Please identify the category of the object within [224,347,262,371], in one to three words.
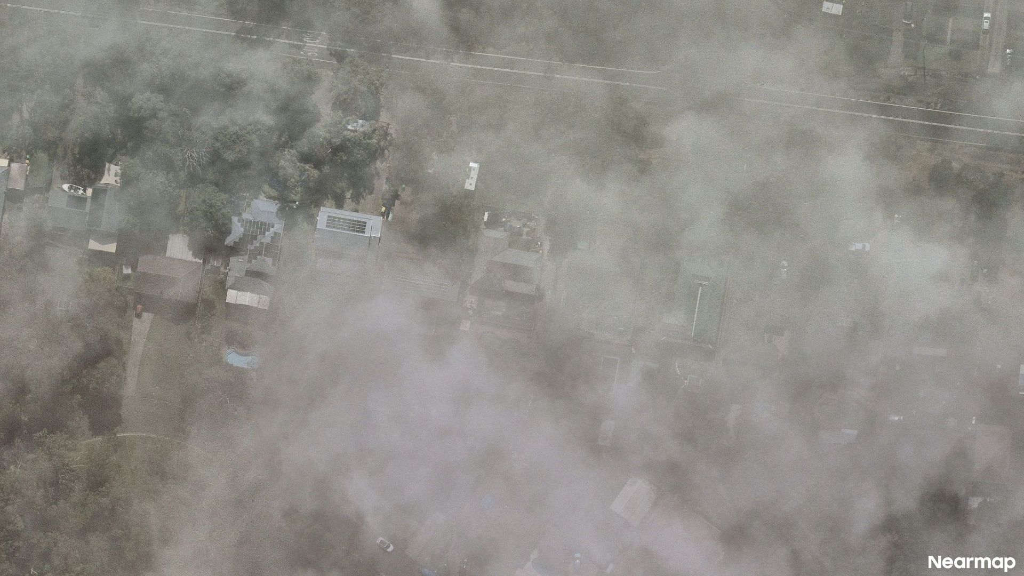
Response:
swimming pool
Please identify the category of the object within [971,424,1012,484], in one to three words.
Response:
house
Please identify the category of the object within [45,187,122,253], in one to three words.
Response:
house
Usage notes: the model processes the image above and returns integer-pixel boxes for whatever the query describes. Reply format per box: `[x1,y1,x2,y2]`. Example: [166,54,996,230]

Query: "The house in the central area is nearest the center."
[469,248,544,299]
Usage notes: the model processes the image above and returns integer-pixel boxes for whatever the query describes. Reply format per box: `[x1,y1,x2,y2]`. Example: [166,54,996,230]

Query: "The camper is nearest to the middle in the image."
[461,160,480,189]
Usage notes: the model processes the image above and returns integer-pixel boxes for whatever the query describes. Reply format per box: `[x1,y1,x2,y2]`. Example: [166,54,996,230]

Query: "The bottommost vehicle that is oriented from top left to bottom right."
[376,537,394,552]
